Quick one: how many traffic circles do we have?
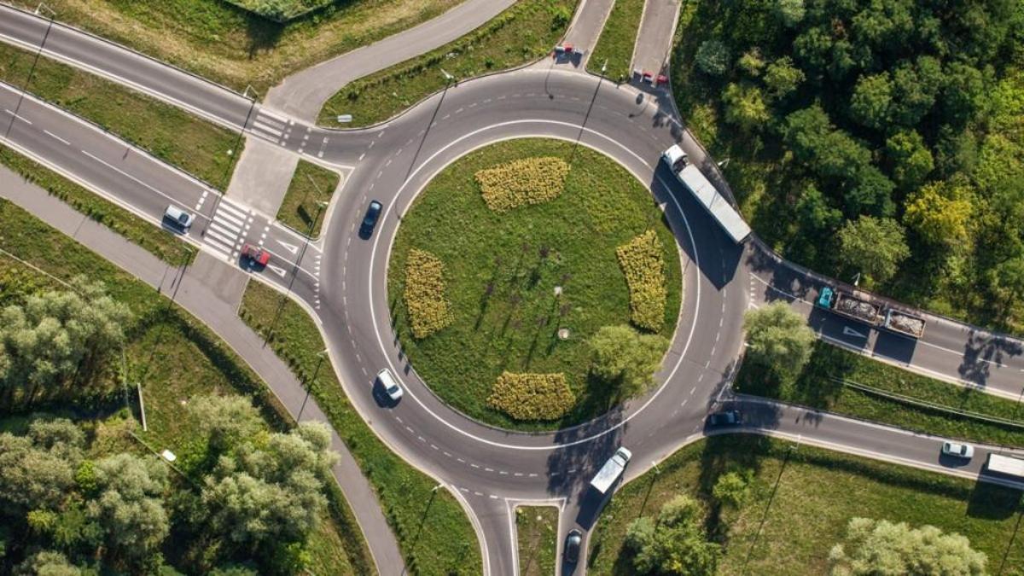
one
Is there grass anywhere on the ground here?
Yes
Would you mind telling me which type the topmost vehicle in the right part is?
truck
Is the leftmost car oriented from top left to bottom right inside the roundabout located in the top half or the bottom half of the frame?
bottom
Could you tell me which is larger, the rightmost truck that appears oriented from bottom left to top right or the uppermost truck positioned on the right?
the uppermost truck positioned on the right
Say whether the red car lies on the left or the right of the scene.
left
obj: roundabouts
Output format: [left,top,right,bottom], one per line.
[323,63,746,498]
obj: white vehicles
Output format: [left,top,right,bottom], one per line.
[591,447,631,493]
[982,453,1024,477]
[943,442,975,457]
[665,146,752,244]
[377,369,402,399]
[163,205,193,227]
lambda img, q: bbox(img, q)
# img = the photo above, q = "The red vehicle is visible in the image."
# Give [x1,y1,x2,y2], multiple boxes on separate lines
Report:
[241,245,271,265]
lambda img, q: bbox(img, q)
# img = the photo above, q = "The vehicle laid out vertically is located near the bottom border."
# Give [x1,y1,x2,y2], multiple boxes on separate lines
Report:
[565,529,581,562]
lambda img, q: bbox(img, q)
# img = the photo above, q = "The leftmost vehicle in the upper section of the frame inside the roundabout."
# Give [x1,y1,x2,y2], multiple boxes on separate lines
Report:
[361,200,380,233]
